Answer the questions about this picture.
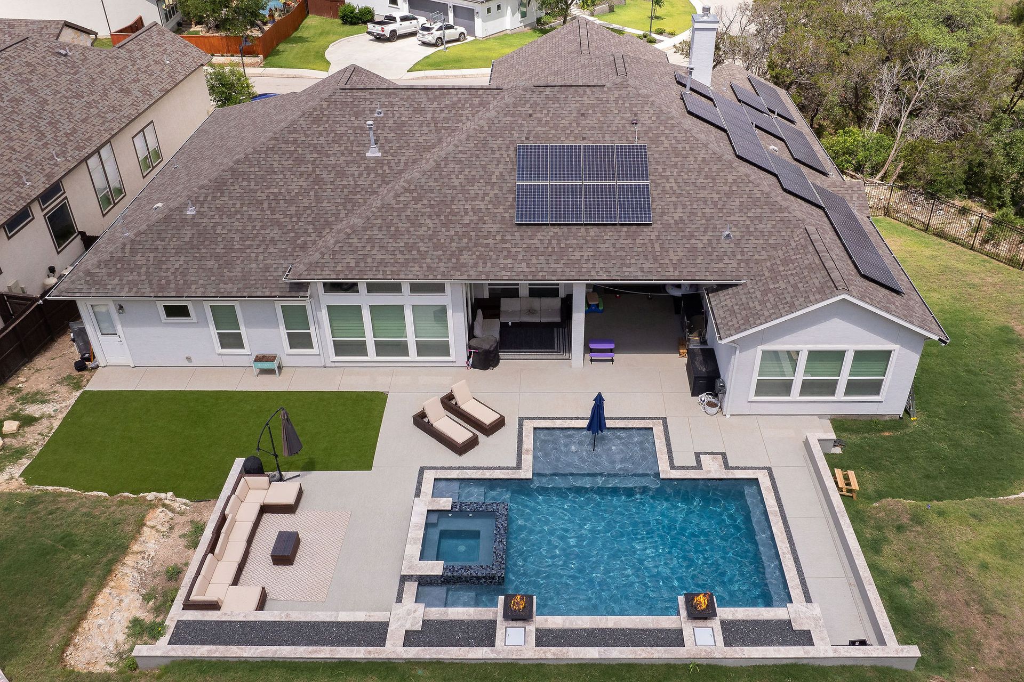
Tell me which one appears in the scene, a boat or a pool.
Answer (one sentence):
Looking from above, you can make out a pool.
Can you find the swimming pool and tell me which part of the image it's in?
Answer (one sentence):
The swimming pool appears toward the bottom of the photo.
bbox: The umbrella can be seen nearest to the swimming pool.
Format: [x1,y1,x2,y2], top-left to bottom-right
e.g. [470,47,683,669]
[586,390,607,452]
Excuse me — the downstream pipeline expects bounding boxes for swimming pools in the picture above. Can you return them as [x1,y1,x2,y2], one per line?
[401,420,806,629]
